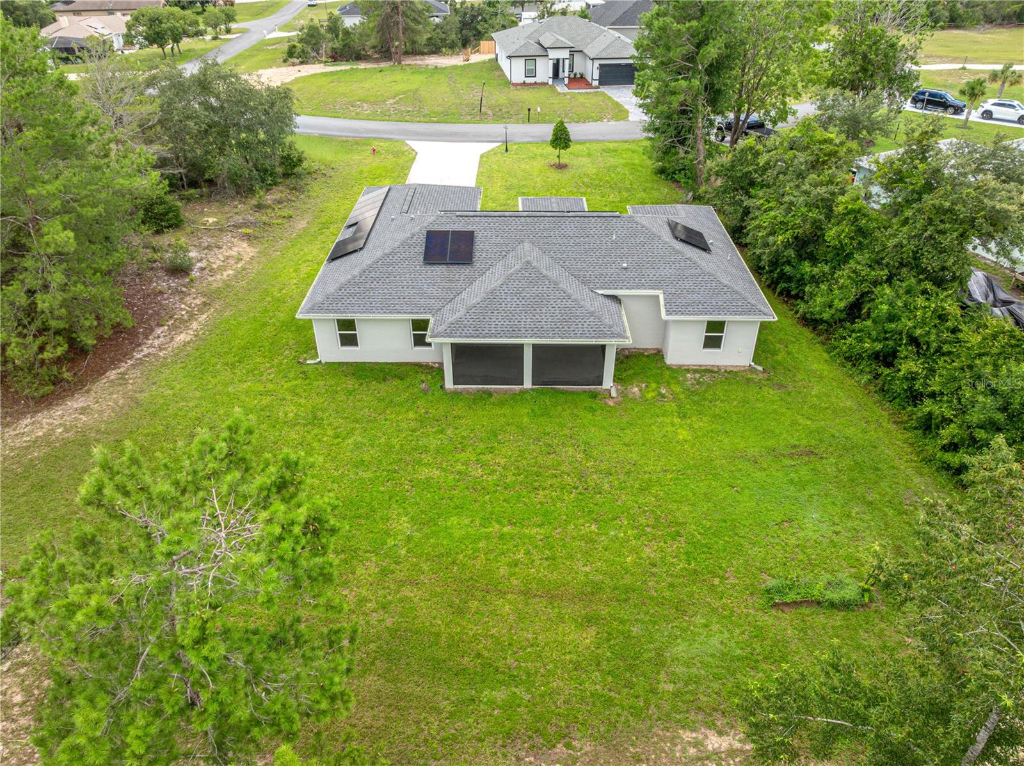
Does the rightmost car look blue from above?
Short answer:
No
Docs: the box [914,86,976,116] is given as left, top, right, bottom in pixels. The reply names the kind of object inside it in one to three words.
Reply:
car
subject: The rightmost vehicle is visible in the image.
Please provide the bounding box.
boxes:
[981,99,1024,127]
